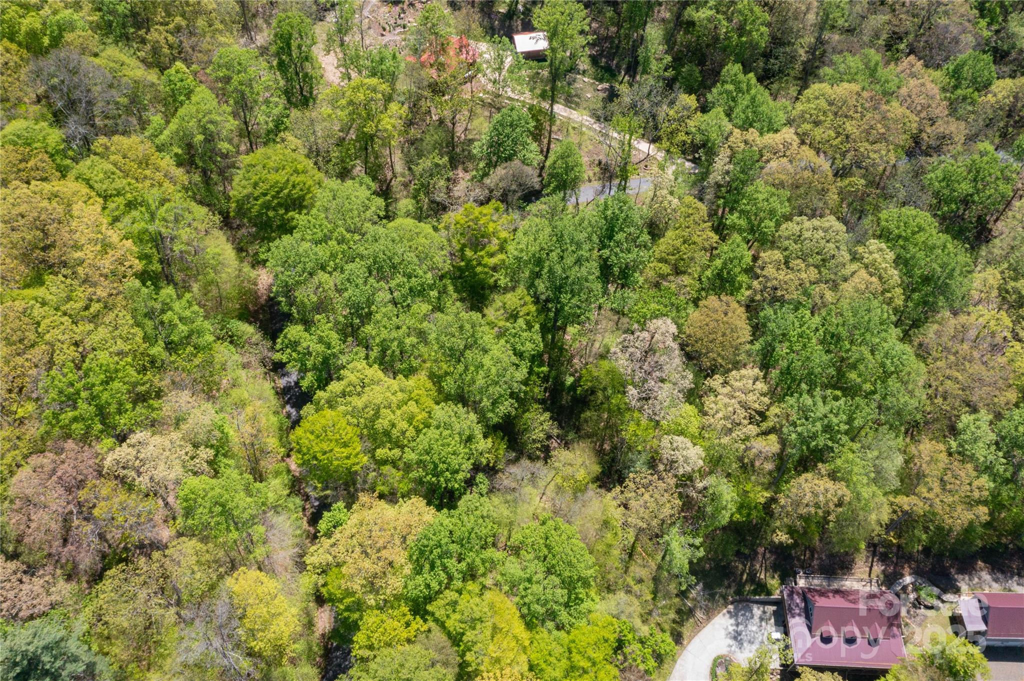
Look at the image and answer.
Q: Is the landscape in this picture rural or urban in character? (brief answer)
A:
rural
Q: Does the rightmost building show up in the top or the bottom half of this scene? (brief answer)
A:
bottom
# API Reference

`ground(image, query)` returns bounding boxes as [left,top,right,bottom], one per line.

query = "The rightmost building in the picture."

[935,591,1024,646]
